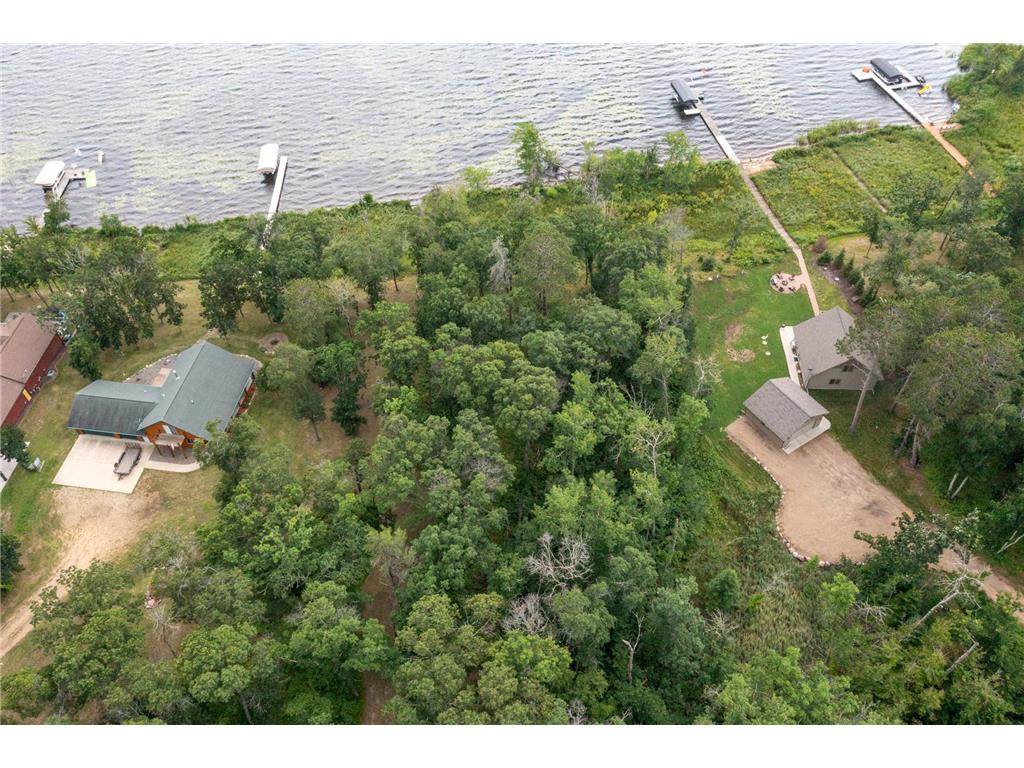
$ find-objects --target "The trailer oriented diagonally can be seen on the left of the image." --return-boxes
[113,440,142,483]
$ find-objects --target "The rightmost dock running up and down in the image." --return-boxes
[260,155,288,243]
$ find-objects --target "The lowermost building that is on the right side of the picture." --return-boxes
[743,377,829,450]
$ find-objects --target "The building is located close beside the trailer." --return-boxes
[64,342,258,458]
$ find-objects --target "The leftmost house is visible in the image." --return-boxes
[0,317,57,432]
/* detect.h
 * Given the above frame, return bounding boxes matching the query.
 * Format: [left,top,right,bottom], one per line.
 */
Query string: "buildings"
[0,317,57,432]
[64,342,258,458]
[743,377,829,450]
[791,308,891,393]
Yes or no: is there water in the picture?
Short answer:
Yes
